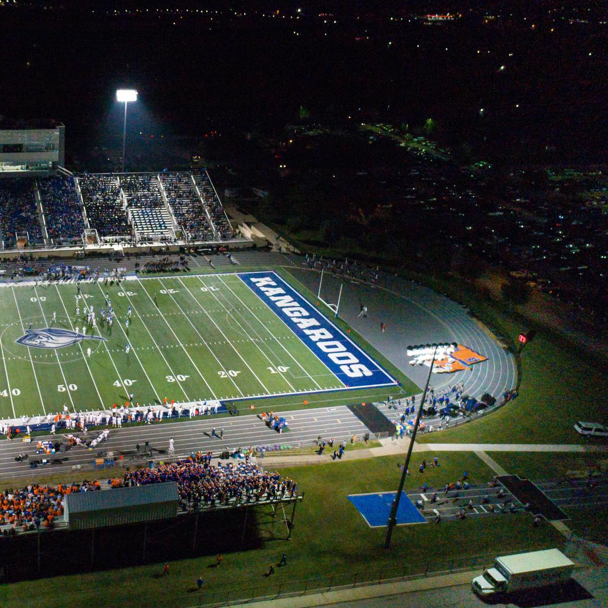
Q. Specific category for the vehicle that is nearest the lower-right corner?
truck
